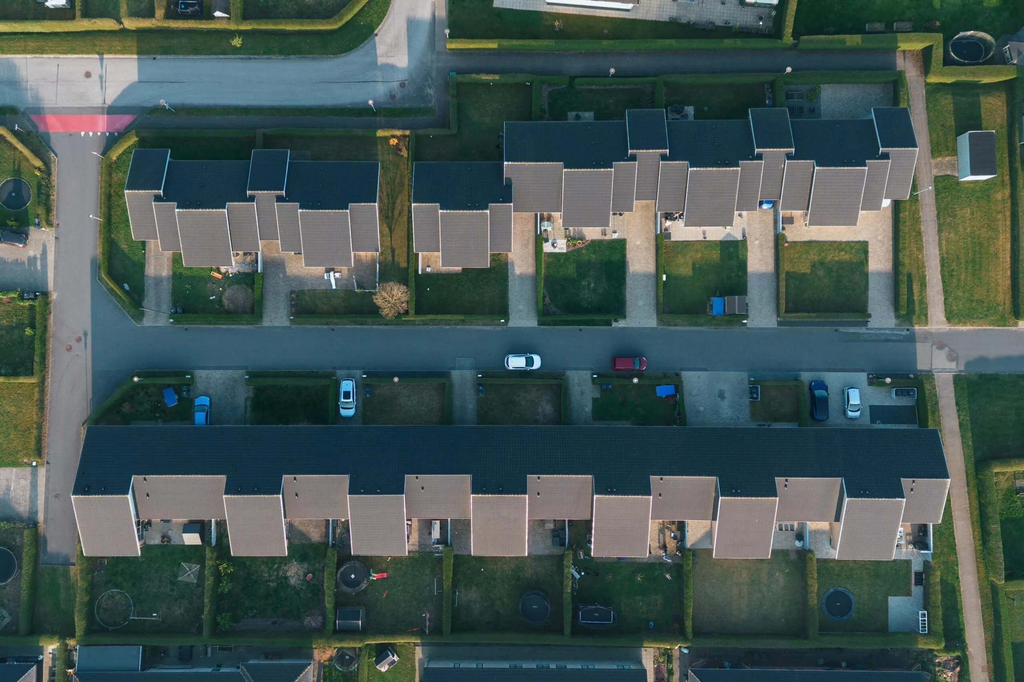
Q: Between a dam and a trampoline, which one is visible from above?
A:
trampoline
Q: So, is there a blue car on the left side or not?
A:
Yes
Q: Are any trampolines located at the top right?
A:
Yes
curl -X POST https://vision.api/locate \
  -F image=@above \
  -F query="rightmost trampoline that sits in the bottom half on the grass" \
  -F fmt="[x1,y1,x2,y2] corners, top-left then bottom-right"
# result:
[822,588,855,622]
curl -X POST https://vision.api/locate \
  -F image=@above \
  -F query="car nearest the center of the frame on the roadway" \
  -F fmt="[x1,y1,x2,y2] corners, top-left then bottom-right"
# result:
[504,353,541,371]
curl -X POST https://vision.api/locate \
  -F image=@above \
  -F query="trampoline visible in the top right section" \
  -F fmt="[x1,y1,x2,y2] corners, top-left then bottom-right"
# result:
[947,28,993,67]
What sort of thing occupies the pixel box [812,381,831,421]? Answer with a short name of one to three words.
car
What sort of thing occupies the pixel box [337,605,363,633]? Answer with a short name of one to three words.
shed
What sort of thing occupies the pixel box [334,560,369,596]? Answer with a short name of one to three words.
trampoline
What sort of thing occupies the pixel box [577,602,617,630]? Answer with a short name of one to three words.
trampoline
